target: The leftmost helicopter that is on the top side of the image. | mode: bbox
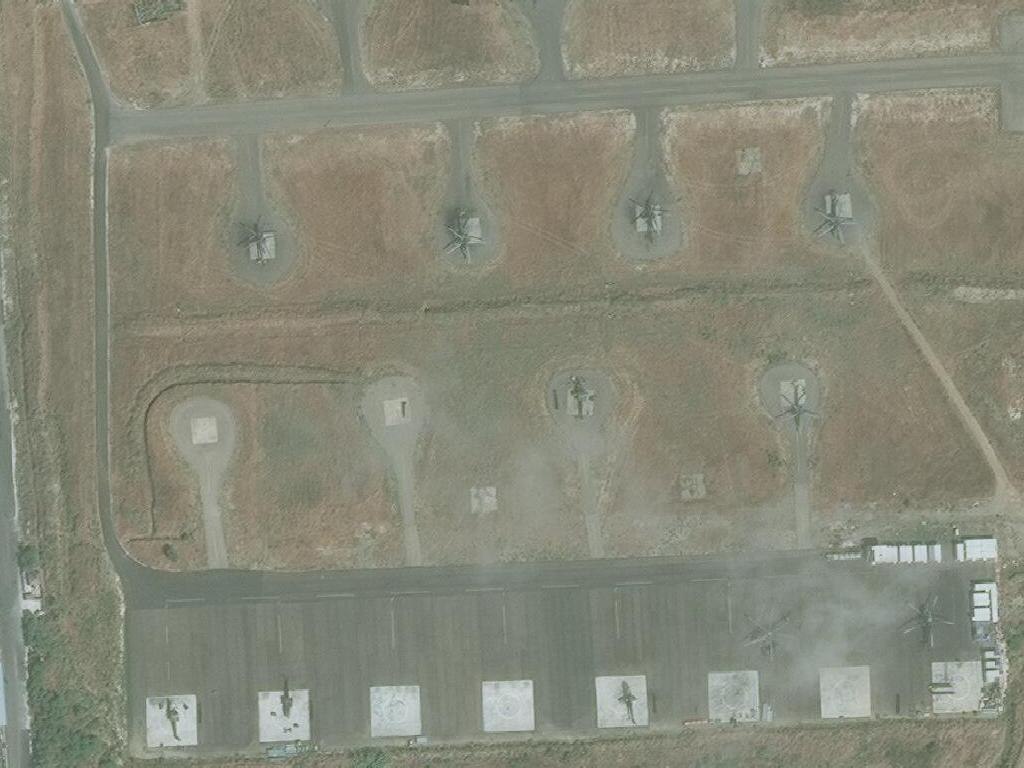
[237,211,286,268]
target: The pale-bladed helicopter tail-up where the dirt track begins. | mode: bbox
[813,192,862,248]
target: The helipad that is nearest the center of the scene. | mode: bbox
[568,389,593,416]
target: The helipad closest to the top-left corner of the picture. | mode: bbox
[249,232,275,260]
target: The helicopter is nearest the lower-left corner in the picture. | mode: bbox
[164,697,181,740]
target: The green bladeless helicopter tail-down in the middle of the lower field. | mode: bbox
[570,375,586,420]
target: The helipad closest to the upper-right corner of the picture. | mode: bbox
[825,194,852,220]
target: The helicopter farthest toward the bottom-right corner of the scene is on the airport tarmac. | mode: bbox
[906,588,956,646]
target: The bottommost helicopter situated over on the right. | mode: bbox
[620,682,638,726]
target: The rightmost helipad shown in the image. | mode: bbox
[932,661,983,713]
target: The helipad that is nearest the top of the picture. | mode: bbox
[738,149,762,174]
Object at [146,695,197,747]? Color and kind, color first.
white helipad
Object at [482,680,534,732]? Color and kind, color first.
white helipad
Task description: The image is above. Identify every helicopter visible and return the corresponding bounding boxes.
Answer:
[813,192,862,248]
[164,697,181,740]
[771,378,822,436]
[570,375,586,420]
[620,682,638,726]
[745,598,796,660]
[626,186,675,247]
[278,677,295,720]
[441,208,490,264]
[906,588,956,646]
[237,211,286,268]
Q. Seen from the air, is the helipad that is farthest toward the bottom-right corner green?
No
